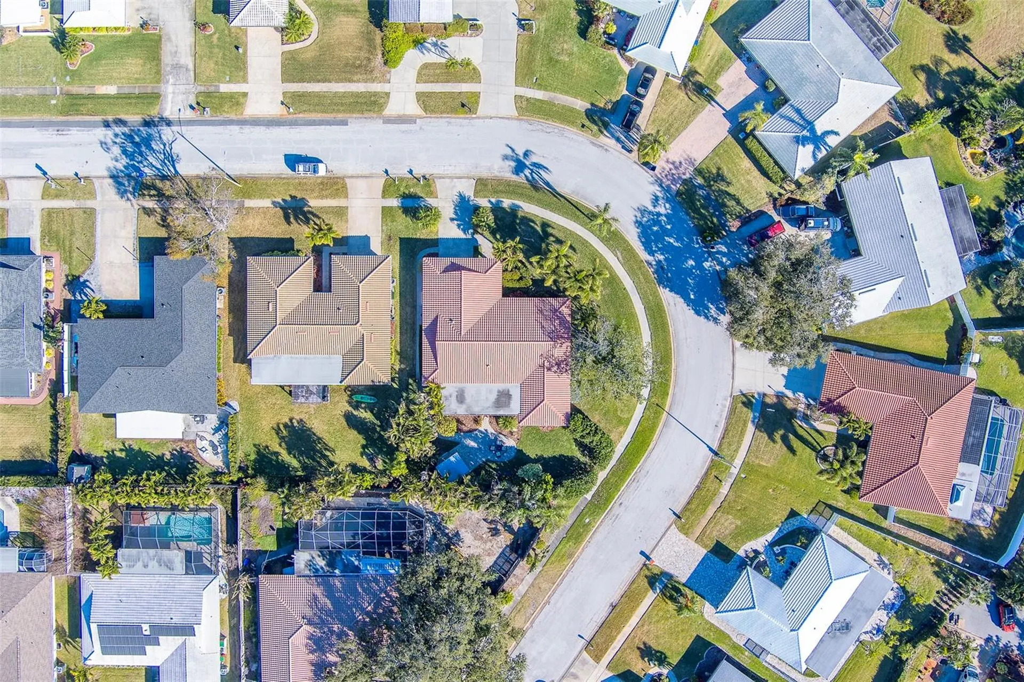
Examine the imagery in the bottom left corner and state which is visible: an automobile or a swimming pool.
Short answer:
swimming pool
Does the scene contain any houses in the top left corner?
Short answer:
Yes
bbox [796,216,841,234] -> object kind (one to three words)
vehicle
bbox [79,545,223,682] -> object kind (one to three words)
house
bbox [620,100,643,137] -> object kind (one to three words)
truck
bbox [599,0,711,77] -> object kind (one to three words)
house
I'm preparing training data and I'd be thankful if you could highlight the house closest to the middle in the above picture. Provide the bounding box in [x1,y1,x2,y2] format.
[422,257,571,427]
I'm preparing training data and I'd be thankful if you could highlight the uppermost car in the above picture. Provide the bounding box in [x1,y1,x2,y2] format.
[634,64,657,100]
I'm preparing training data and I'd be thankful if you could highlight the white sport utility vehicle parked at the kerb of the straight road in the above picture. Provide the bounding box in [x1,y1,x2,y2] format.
[295,160,329,177]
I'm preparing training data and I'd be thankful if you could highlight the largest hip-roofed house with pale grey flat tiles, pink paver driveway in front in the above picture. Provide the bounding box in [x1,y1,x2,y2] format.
[740,0,901,179]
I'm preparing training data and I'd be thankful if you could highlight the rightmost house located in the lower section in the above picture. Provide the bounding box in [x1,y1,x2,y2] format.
[817,350,993,520]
